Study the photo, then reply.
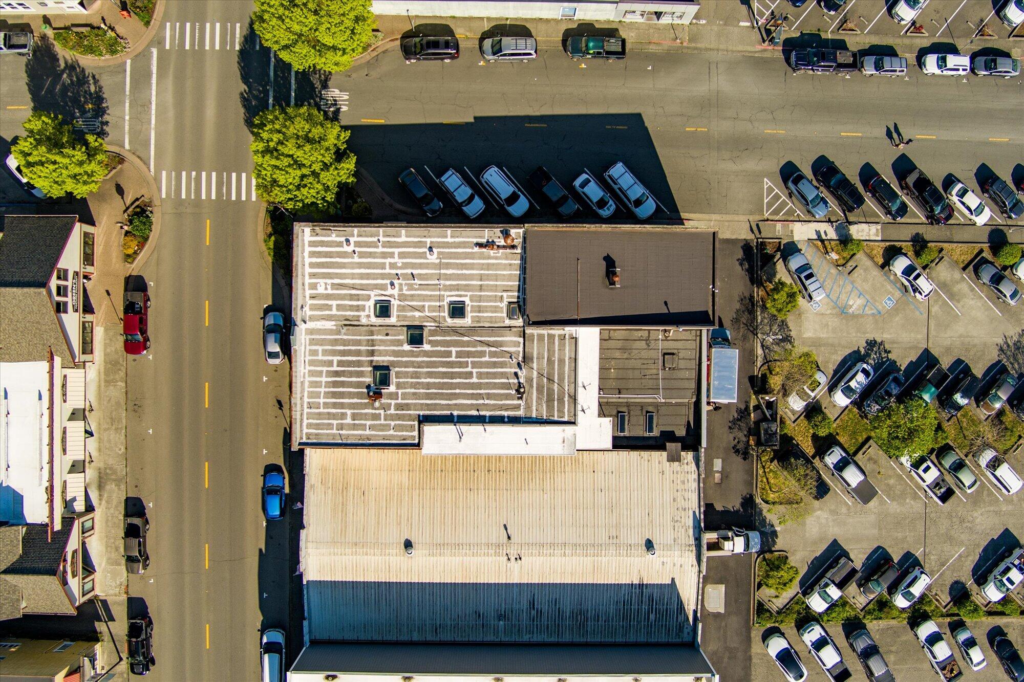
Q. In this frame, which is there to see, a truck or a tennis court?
truck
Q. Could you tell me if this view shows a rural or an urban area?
urban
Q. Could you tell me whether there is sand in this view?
No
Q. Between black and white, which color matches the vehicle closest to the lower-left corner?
black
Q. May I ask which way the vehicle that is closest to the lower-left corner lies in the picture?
up and down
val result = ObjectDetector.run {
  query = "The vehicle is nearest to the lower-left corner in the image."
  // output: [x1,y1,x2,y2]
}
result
[124,615,155,676]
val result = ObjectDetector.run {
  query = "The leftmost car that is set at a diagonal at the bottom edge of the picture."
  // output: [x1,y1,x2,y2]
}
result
[761,630,811,682]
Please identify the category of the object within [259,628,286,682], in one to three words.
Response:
vehicle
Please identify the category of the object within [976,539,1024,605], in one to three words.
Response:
truck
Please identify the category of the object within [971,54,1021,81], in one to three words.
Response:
car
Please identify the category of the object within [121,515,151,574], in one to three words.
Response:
truck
